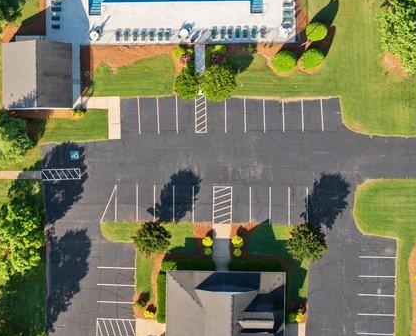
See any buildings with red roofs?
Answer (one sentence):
No, I can't see a single building with a red roof in this photo.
